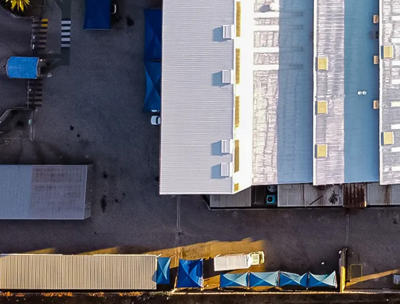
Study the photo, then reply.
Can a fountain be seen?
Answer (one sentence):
No, the picture doesn't show any fountain.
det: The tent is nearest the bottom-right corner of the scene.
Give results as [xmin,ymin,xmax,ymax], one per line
[308,267,336,287]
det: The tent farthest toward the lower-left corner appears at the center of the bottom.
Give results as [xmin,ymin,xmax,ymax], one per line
[158,253,178,285]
